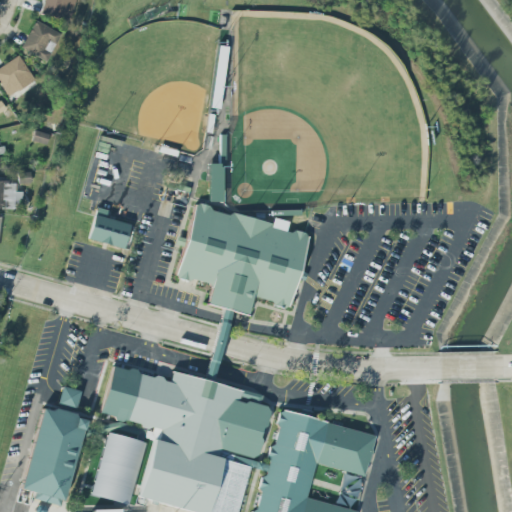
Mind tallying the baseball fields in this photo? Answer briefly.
2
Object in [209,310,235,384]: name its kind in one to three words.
bridge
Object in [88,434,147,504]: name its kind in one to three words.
building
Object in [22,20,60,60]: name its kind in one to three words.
house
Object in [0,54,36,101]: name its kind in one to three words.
house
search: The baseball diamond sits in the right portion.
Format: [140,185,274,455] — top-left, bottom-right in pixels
[228,10,428,206]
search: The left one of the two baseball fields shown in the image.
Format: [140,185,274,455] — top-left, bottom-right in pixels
[84,24,219,156]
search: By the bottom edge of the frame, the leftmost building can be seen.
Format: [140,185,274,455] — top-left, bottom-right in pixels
[25,405,92,506]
